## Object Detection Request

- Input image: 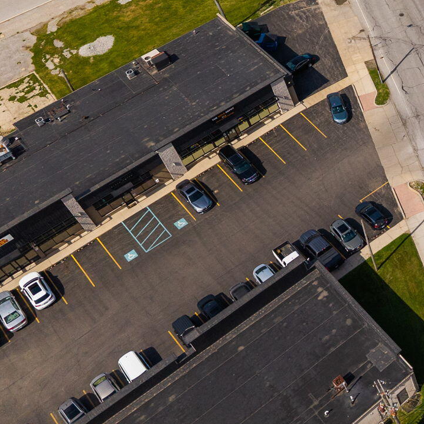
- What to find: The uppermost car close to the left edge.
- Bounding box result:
[17,272,56,311]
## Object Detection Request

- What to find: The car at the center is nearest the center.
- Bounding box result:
[172,177,216,215]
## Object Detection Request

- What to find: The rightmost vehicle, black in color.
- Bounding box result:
[355,200,390,235]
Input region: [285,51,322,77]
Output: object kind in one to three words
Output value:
car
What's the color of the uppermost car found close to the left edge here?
white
